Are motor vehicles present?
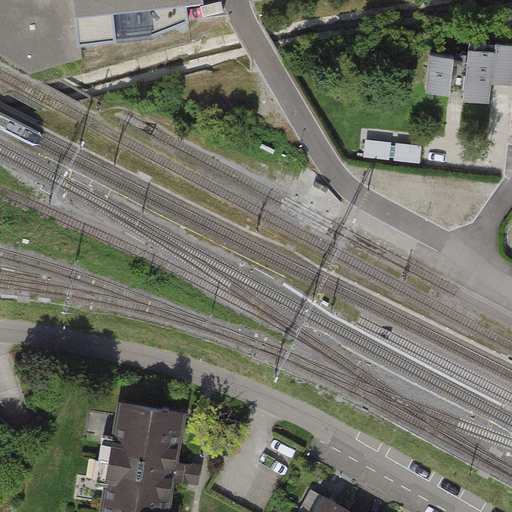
Yes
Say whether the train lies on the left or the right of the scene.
left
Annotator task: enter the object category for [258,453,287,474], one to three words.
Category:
truck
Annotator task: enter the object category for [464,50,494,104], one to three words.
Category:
house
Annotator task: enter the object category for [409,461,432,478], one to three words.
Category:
car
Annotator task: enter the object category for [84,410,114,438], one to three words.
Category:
building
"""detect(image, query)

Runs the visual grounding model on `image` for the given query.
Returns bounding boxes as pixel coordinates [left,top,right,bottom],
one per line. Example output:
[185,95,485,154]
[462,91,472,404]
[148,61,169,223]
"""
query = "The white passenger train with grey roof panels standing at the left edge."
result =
[0,112,44,146]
